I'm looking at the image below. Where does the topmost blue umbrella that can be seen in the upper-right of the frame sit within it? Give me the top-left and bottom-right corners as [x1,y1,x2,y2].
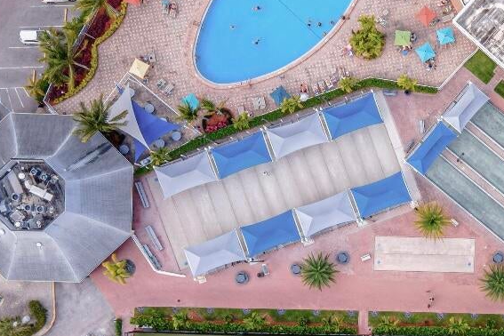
[436,27,454,45]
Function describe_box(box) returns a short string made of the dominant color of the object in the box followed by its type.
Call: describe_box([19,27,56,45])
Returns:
white car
